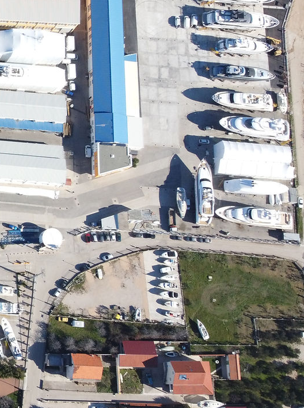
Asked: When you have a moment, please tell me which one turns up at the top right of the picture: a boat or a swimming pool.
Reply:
boat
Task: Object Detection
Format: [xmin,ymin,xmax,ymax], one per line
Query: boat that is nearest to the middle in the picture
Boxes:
[172,187,206,217]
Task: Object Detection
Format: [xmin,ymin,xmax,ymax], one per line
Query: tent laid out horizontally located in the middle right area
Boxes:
[210,143,299,180]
